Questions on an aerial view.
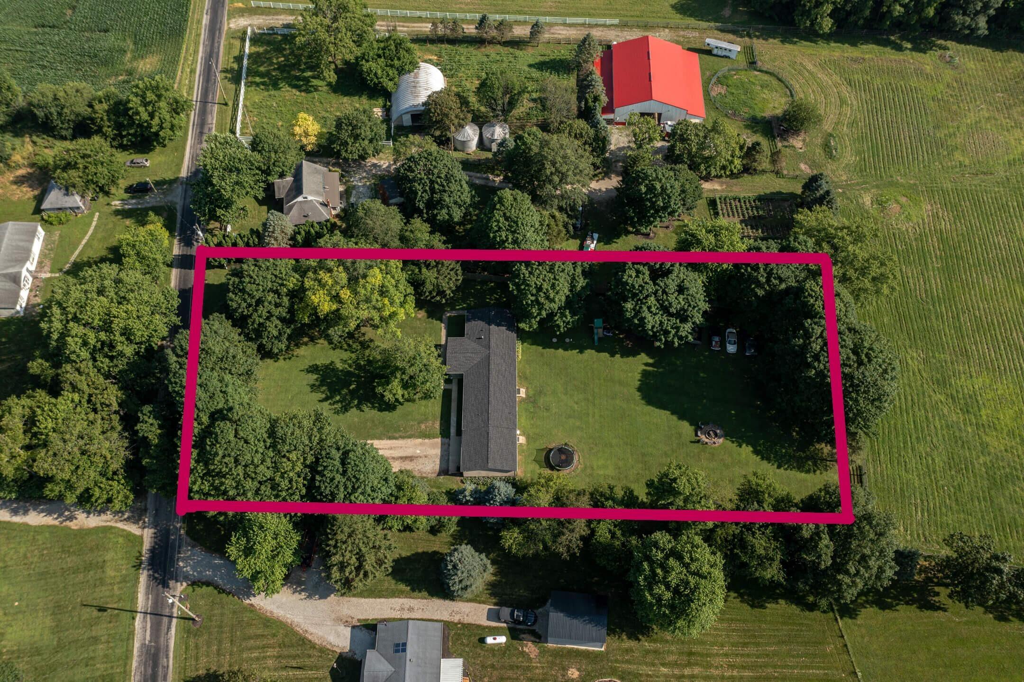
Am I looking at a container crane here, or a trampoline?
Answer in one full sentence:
Of the two, only a trampoline appears.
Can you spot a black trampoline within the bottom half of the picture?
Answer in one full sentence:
Yes, there is a black trampoline within the bottom half of the picture.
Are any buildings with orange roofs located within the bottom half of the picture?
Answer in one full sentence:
No, the scene shows no building with an orange roof within the bottom half of the picture.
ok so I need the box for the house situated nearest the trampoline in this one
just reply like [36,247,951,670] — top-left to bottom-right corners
[446,305,527,478]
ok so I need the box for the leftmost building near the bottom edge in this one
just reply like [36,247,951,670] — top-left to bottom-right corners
[363,620,465,682]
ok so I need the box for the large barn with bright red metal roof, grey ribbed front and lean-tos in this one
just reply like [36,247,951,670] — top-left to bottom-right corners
[594,35,706,130]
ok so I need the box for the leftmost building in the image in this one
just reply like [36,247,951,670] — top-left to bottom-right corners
[0,218,49,331]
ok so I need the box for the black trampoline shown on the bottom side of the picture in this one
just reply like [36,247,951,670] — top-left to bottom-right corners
[549,439,578,473]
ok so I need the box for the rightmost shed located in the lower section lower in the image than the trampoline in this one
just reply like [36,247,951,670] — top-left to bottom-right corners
[547,591,607,651]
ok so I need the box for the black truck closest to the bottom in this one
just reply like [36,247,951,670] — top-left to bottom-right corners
[497,606,540,627]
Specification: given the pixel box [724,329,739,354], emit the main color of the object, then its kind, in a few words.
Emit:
black car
